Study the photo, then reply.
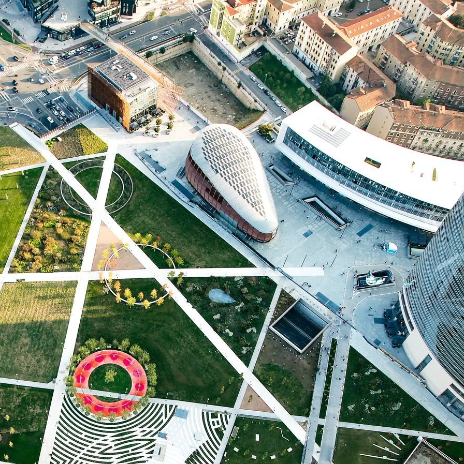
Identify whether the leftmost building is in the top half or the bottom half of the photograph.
top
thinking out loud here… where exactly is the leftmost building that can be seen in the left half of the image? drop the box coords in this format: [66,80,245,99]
[27,0,60,29]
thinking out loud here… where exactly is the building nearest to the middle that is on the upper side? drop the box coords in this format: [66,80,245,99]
[187,123,279,242]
